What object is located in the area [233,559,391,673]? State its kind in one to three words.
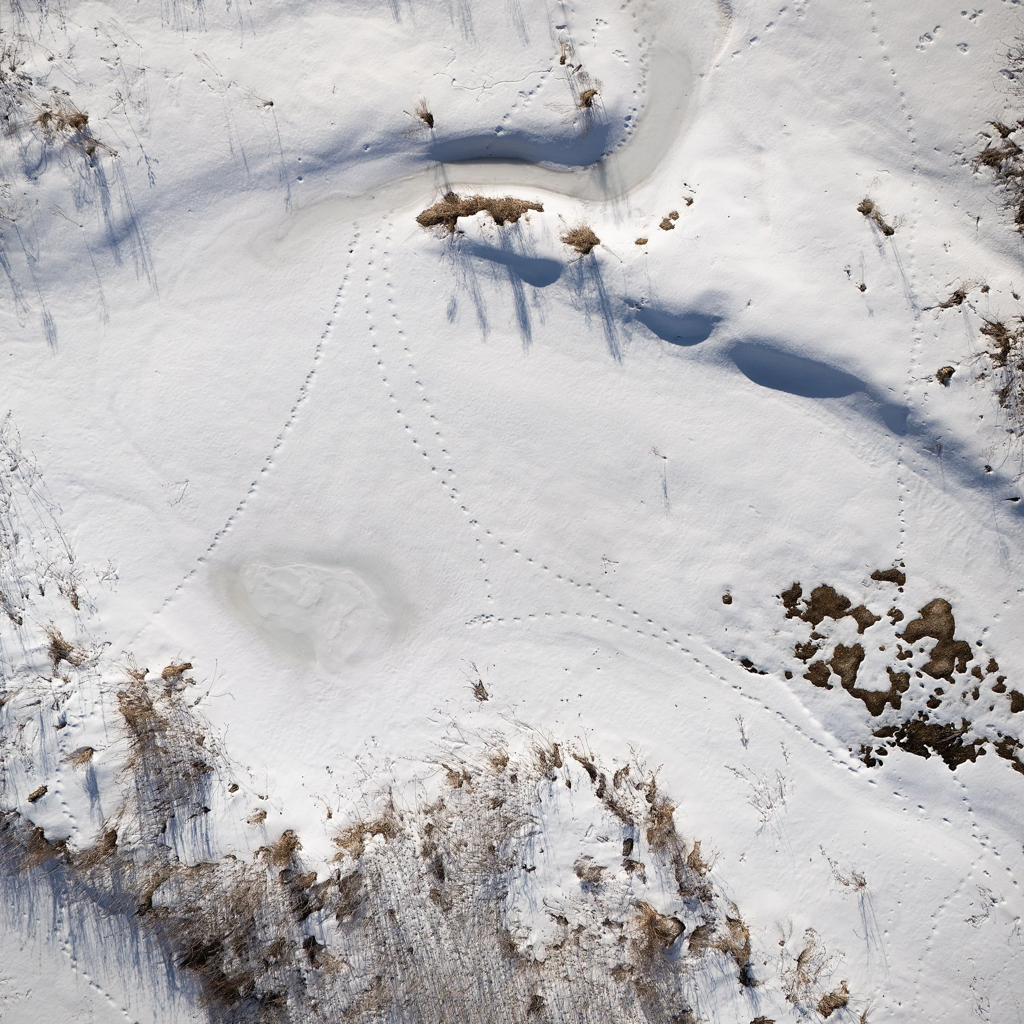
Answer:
pond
